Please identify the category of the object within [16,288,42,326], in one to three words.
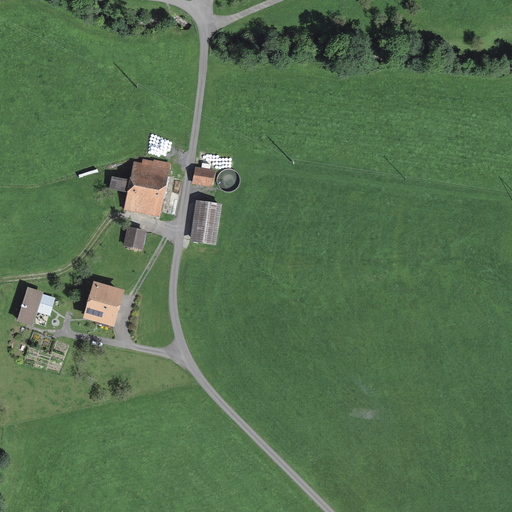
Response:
house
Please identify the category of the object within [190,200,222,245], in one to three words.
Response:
barn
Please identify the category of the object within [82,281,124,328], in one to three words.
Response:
house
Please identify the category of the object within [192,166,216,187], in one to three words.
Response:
shed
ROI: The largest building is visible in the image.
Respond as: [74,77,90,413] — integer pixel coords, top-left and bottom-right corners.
[123,160,170,217]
